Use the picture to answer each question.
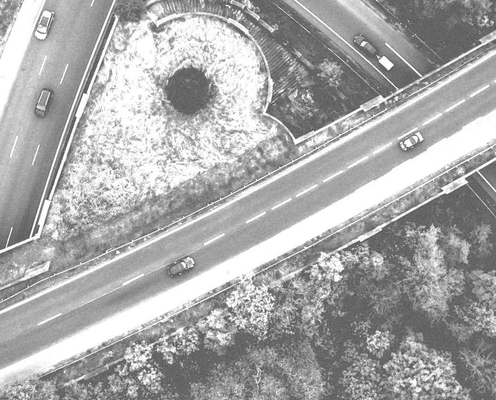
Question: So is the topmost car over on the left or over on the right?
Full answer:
The topmost car is on the left side of the image.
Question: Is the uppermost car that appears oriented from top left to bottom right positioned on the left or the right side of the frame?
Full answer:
You can find the uppermost car that appears oriented from top left to bottom right on the right side of the picture.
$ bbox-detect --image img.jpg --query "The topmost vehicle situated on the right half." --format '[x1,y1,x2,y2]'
[351,34,379,59]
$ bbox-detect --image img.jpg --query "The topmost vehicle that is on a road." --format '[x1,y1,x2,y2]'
[34,8,56,42]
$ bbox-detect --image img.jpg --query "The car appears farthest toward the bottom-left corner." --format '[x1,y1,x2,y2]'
[165,255,198,280]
